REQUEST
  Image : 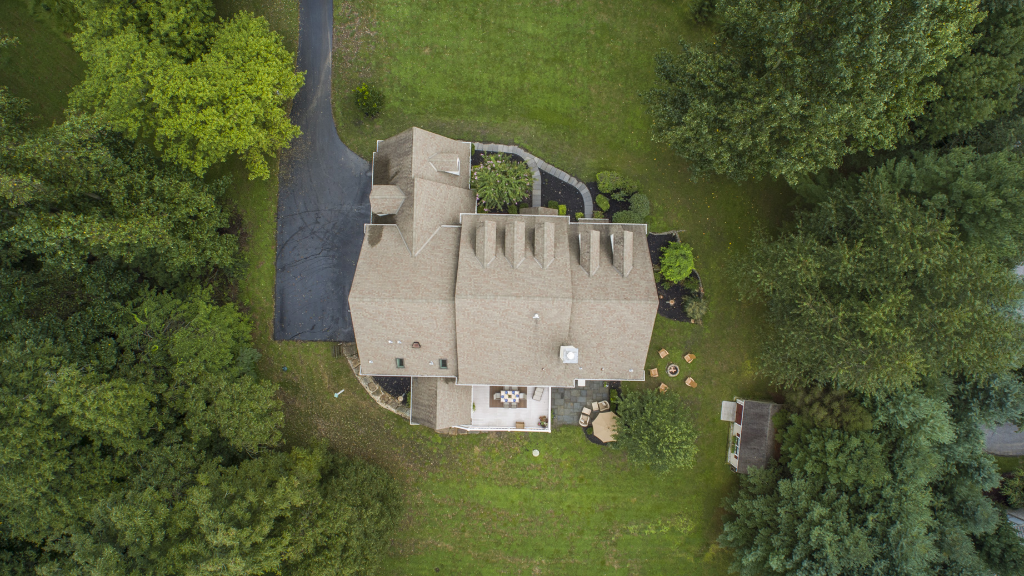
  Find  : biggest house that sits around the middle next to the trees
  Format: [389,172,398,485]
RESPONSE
[347,127,659,430]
